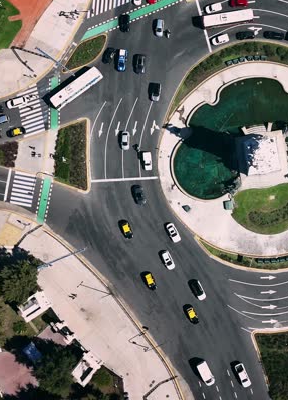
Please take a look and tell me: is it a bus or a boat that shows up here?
bus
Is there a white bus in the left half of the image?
Yes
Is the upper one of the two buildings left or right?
left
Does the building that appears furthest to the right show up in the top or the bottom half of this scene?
bottom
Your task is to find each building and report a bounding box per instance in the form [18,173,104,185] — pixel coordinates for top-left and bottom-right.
[18,288,55,323]
[76,349,106,381]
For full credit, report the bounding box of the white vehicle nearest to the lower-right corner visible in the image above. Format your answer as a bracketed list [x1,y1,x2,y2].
[236,363,250,386]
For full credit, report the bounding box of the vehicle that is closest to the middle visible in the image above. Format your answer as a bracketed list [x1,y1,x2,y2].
[133,185,146,205]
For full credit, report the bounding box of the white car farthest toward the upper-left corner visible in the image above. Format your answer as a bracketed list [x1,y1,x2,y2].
[7,95,30,109]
